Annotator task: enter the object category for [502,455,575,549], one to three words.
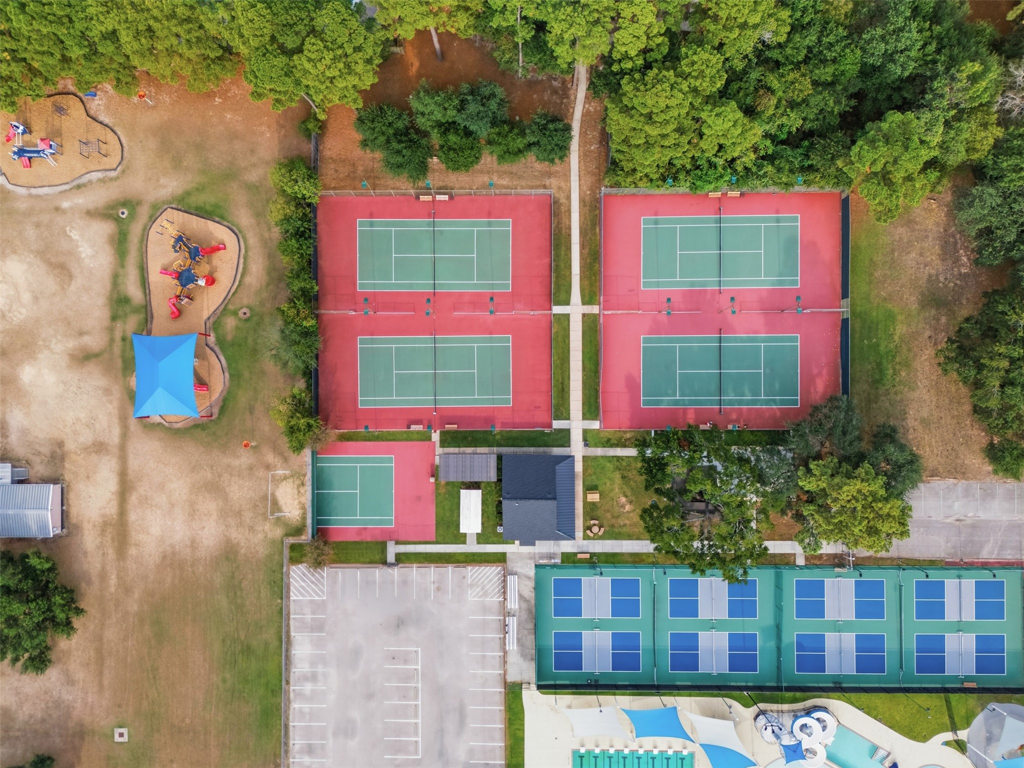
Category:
building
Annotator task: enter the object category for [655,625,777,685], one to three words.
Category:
sports court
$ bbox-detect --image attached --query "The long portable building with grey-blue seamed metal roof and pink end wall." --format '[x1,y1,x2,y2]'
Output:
[0,484,65,538]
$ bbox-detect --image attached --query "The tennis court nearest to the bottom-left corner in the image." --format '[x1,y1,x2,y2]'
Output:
[316,442,435,541]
